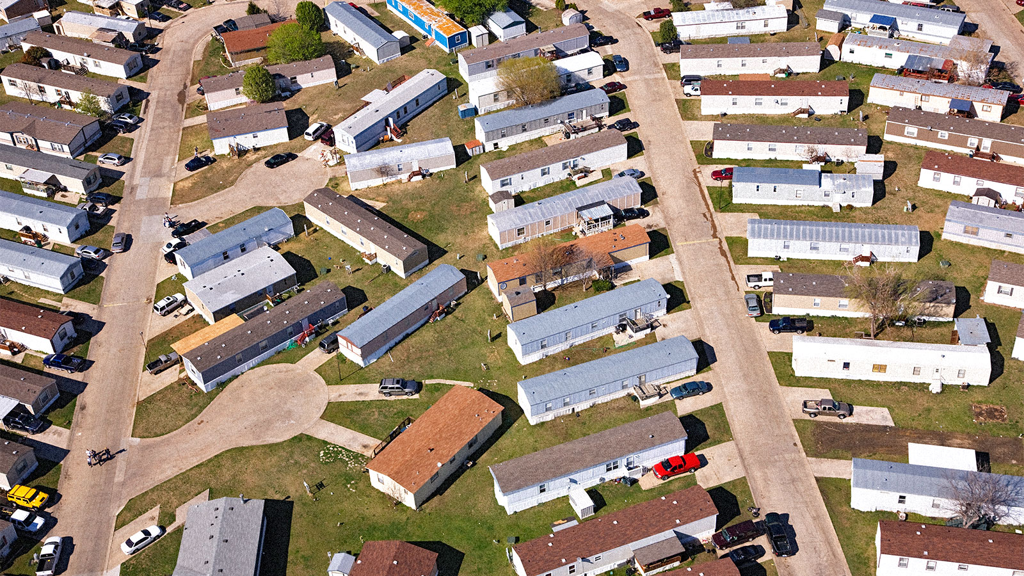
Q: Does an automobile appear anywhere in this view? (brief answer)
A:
Yes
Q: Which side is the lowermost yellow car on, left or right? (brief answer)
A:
left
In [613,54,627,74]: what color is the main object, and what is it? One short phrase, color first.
blue car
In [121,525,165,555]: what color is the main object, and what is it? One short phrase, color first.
white car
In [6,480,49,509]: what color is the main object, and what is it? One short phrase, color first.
yellow car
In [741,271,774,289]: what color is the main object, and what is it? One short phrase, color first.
white vehicle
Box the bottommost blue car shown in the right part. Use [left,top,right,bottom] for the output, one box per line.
[670,379,710,400]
